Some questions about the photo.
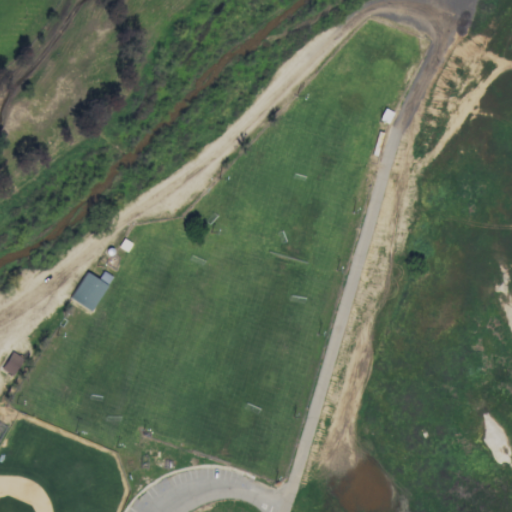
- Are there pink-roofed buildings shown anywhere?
No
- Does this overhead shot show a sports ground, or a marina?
sports ground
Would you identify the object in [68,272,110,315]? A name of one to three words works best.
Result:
building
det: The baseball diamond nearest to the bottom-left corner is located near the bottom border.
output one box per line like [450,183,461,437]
[0,408,128,512]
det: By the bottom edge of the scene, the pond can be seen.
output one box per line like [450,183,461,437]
[337,454,394,512]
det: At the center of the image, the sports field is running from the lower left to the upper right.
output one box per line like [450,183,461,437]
[13,24,422,480]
